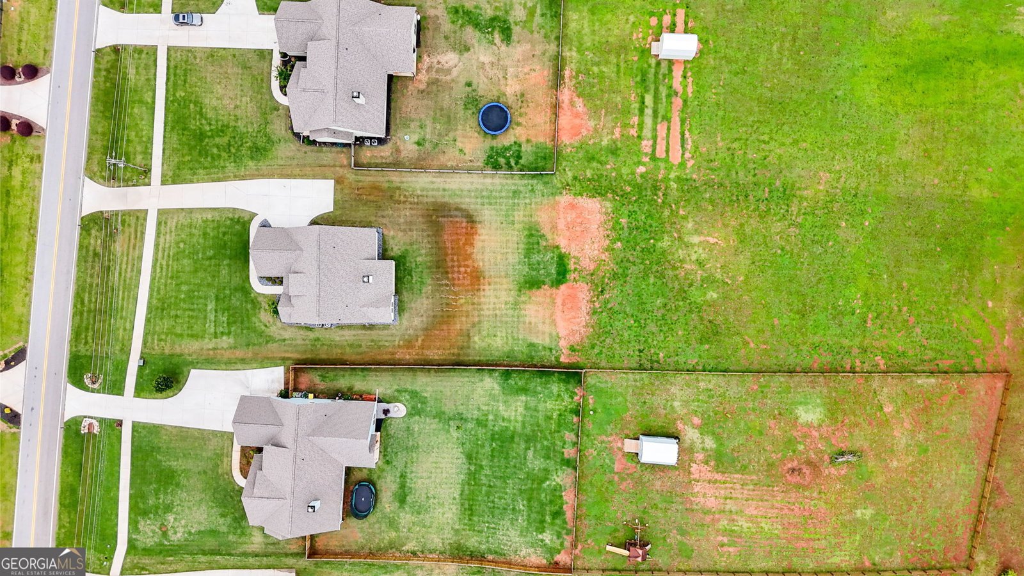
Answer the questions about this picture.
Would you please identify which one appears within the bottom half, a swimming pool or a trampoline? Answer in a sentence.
What appears within the bottom half is a trampoline.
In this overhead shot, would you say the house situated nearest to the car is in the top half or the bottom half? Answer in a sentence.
You can find the house situated nearest to the car in the top half.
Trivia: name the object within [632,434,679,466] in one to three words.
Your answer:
shed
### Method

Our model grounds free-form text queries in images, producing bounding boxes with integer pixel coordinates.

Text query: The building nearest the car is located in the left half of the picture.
[274,0,418,144]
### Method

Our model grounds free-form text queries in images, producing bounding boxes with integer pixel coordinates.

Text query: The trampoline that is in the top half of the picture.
[478,102,511,135]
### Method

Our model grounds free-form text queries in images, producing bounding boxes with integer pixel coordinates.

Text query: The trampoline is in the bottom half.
[349,480,375,522]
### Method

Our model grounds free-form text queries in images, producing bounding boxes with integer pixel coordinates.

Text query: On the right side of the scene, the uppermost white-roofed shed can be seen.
[651,30,698,58]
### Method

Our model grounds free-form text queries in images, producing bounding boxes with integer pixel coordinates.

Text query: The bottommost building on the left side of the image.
[232,395,389,543]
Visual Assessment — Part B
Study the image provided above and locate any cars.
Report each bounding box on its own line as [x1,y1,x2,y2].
[171,12,204,28]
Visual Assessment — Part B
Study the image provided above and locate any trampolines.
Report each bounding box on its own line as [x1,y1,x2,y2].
[478,102,511,135]
[349,480,375,522]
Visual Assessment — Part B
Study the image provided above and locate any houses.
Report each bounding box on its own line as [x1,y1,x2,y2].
[274,0,418,144]
[232,395,389,543]
[251,226,396,323]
